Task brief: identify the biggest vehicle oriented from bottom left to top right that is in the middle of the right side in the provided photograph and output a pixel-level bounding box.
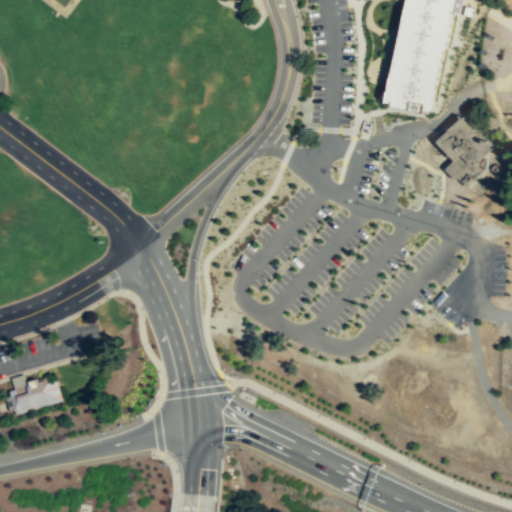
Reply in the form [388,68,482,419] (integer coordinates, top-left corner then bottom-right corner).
[434,290,448,306]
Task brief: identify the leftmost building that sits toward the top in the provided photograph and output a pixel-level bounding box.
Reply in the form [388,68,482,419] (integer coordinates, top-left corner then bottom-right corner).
[384,0,460,114]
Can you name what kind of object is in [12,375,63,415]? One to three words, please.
house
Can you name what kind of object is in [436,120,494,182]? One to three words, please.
building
